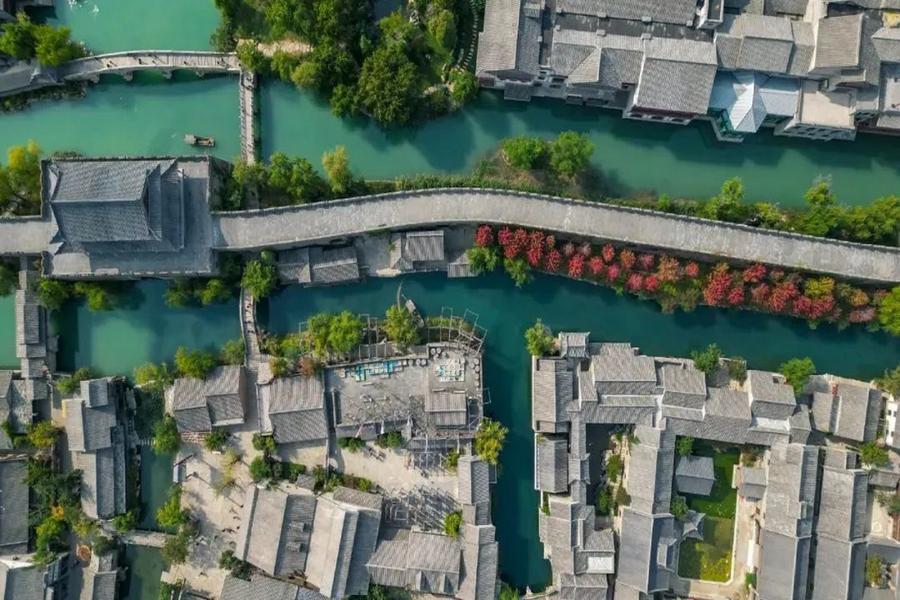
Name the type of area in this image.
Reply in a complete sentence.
It's a residential area.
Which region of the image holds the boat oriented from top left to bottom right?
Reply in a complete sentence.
You can find the boat oriented from top left to bottom right in the center area of the picture.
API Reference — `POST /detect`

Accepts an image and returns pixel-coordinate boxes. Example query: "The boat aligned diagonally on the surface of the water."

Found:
[403,290,425,327]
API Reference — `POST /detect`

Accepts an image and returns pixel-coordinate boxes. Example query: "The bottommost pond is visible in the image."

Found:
[678,516,737,583]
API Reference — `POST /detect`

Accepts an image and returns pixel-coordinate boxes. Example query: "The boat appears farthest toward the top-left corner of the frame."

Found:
[183,134,218,146]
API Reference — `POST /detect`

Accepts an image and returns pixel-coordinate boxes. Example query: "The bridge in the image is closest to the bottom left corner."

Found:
[115,530,177,548]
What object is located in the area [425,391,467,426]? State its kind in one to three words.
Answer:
shed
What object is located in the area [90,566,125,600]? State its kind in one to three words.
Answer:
house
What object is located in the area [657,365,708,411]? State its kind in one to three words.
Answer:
house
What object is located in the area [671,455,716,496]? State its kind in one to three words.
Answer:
building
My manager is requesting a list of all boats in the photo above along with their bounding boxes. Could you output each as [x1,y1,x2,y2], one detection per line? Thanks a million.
[183,134,218,146]
[403,290,425,327]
